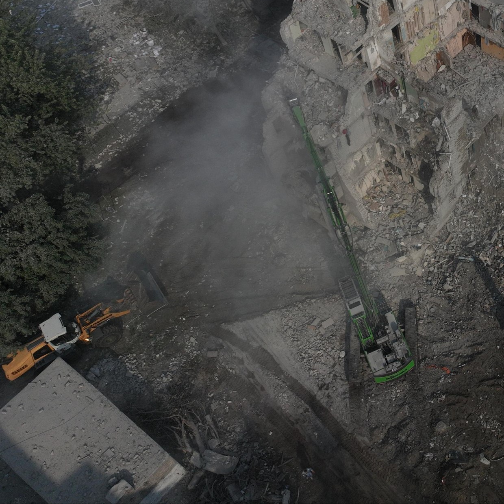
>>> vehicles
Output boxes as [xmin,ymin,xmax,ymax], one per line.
[8,284,155,390]
[286,92,421,389]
